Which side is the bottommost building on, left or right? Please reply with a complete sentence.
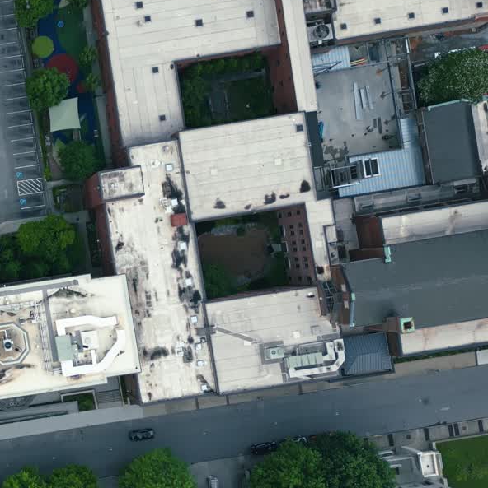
The bottommost building sits on the right side.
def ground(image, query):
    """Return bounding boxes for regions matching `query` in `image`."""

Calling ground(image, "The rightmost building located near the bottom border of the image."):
[406,445,439,476]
